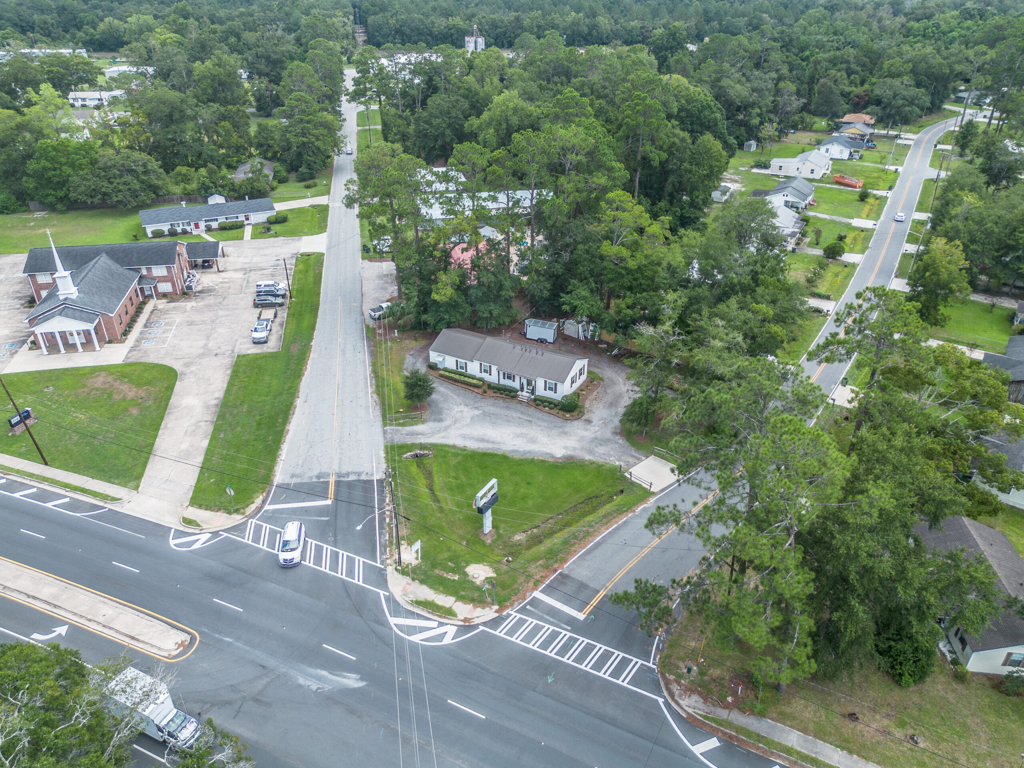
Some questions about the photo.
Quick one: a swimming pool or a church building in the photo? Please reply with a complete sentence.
Visible in the photo is a church building.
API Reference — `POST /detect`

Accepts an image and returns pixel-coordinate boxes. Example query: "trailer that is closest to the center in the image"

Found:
[517,318,558,341]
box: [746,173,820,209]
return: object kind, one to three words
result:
house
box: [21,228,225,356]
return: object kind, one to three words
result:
church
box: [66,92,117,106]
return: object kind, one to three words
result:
house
